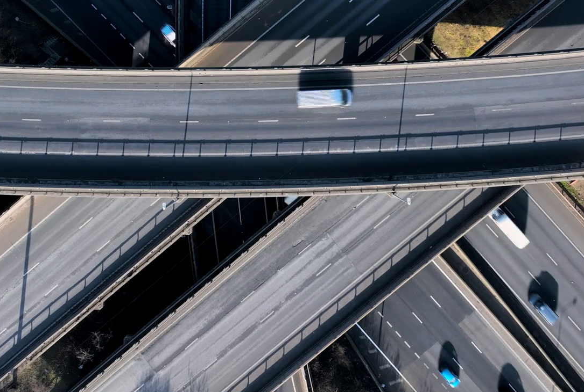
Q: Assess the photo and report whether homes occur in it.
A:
No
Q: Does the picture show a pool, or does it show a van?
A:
van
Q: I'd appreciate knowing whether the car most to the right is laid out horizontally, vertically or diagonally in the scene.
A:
diagonally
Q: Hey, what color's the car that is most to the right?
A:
blue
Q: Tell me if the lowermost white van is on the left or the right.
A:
right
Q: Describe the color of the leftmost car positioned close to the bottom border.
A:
blue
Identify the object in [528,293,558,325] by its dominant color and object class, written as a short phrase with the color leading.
blue car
